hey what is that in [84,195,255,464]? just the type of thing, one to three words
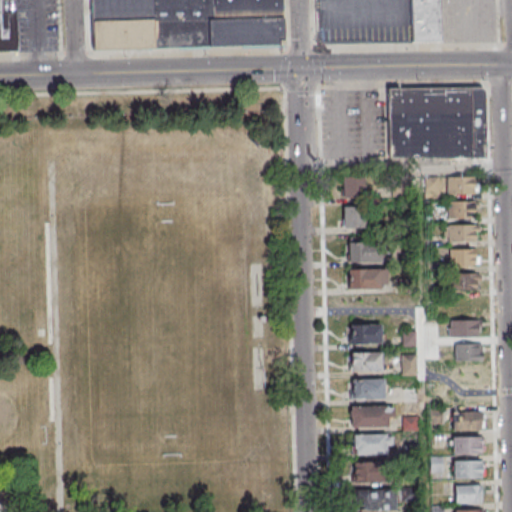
soccer field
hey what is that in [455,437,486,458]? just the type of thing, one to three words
house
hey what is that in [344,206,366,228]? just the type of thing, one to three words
house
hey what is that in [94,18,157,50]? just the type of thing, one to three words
building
